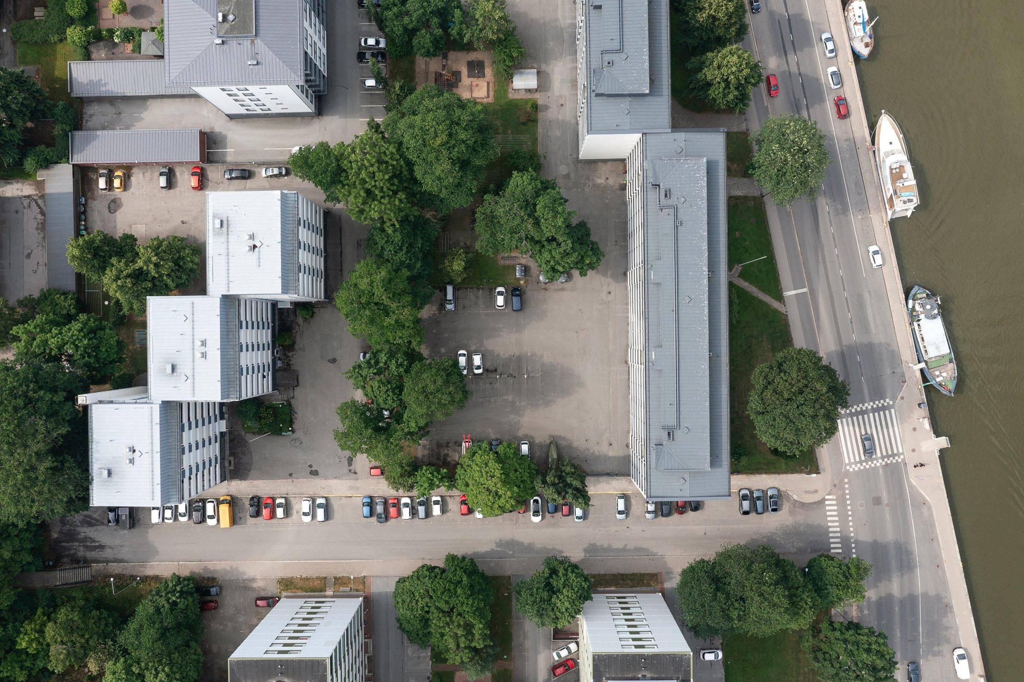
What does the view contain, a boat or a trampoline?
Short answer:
boat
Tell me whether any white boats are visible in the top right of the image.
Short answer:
Yes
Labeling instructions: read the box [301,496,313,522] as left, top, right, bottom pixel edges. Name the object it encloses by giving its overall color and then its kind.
white vehicle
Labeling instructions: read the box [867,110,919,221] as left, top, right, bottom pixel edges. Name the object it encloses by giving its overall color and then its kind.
white boat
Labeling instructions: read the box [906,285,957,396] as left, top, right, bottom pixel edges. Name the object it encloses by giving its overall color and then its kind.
white boat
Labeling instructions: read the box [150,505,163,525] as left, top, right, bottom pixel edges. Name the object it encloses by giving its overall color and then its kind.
white vehicle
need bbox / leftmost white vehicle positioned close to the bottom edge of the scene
[553,642,579,660]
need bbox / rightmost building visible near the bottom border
[578,595,691,682]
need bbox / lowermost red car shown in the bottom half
[551,658,575,677]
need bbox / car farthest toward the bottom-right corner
[952,647,973,681]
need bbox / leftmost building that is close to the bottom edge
[228,599,363,682]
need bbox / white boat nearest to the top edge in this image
[844,0,882,60]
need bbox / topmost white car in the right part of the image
[820,32,834,58]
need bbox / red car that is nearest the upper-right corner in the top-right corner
[834,95,848,119]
